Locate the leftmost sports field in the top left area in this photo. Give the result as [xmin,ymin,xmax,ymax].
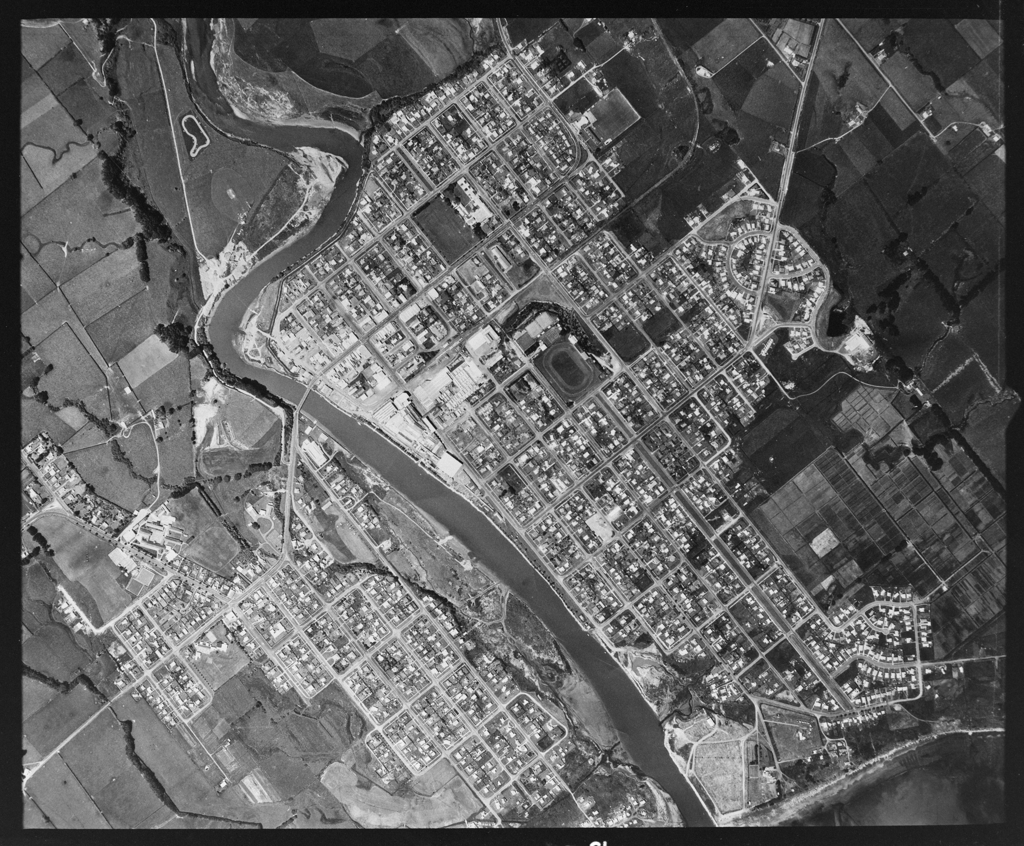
[210,168,254,221]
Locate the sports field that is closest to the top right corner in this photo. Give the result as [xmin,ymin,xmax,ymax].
[590,88,641,141]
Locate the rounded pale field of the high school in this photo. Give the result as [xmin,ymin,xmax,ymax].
[191,524,239,574]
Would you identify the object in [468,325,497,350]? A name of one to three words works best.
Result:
building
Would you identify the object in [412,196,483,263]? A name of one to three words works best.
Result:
sports field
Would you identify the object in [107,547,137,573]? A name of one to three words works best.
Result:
building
